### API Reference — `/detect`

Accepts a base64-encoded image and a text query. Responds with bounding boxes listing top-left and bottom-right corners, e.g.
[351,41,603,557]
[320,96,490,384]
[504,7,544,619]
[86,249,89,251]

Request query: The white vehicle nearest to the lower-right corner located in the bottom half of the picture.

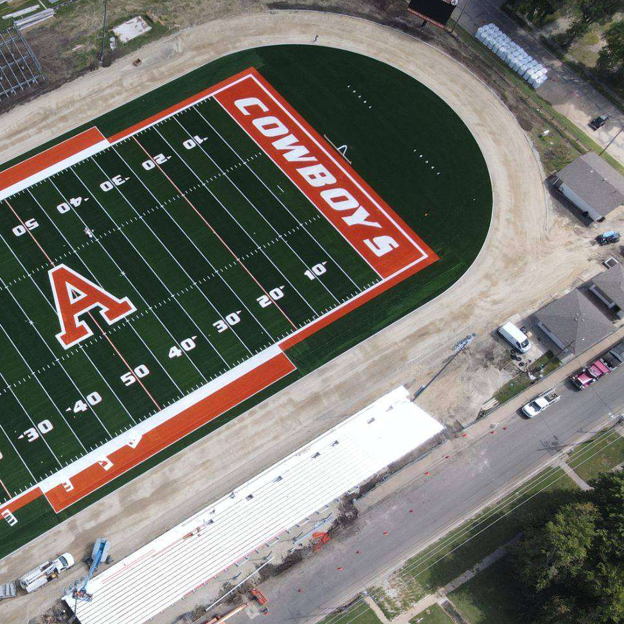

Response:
[521,385,567,417]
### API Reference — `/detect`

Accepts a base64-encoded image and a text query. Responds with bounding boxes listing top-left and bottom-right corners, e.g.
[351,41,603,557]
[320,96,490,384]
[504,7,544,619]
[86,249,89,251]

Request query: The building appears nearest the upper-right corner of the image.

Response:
[541,152,624,225]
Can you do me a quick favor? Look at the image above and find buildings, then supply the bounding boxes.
[578,246,624,323]
[541,152,624,225]
[530,290,618,370]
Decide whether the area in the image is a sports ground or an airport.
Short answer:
sports ground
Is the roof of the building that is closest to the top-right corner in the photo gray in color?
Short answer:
Yes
